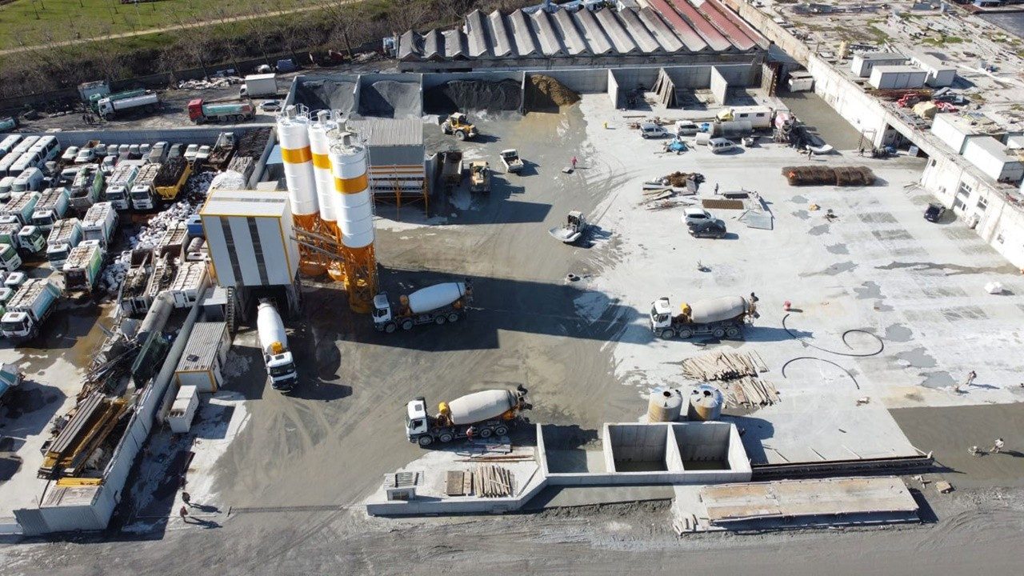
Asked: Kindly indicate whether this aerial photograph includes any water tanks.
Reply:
Yes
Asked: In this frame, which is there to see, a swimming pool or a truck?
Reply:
truck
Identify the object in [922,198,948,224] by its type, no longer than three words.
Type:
car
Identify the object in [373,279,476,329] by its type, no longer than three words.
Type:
truck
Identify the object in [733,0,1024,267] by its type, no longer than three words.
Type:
building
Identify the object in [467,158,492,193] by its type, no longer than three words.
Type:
work vehicle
